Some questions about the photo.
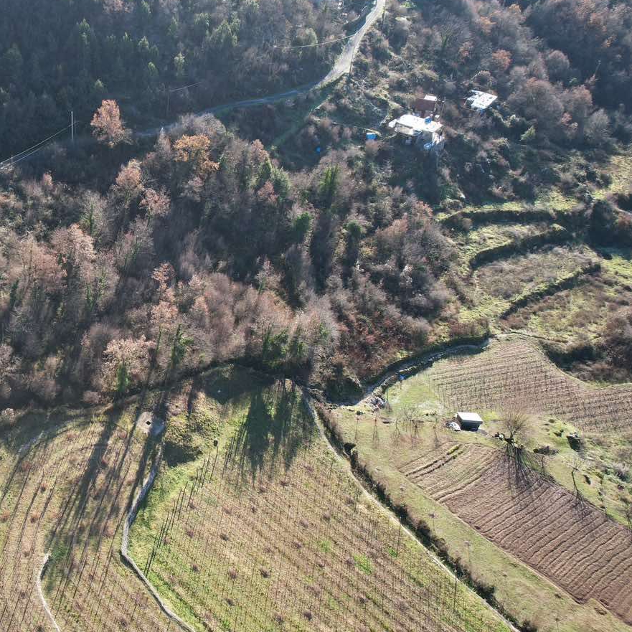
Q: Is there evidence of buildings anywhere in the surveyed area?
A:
Yes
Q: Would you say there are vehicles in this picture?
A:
No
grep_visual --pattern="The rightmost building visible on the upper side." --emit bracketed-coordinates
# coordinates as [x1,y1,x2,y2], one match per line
[463,91,498,122]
